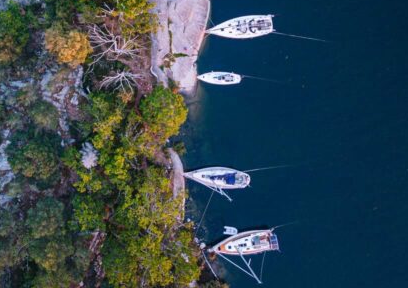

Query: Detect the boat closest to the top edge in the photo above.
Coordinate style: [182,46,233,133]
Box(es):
[205,13,276,39]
